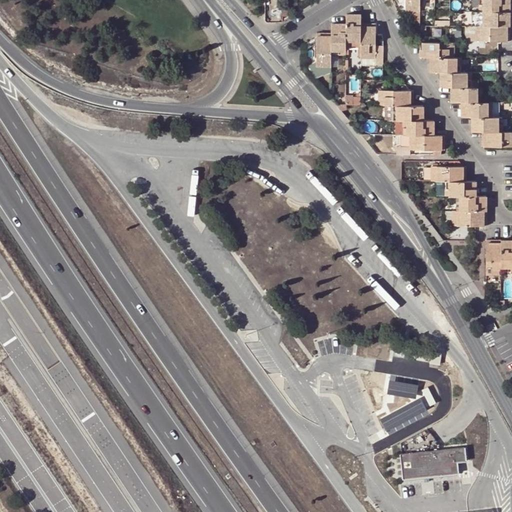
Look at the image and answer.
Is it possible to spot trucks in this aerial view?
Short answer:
Yes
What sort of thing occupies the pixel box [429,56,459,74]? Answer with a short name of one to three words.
house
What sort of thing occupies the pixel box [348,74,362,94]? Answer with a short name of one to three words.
swimming pool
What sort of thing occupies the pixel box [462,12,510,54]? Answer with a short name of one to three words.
house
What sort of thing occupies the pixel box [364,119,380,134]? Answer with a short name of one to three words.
swimming pool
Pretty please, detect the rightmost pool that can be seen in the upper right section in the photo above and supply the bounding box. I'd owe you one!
[480,60,498,73]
